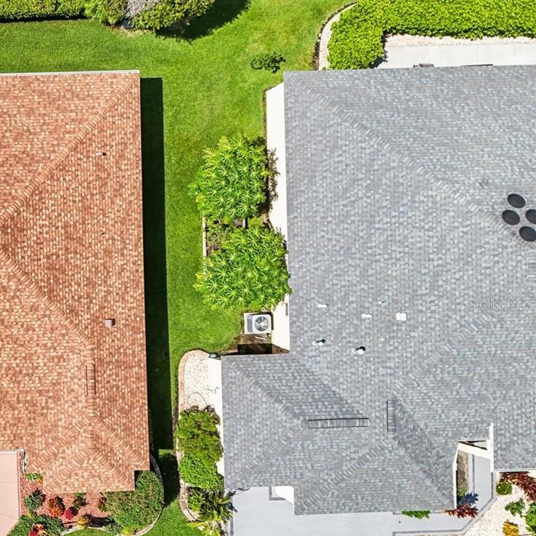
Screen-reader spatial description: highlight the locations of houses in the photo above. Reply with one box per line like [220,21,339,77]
[0,69,151,495]
[209,67,536,517]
